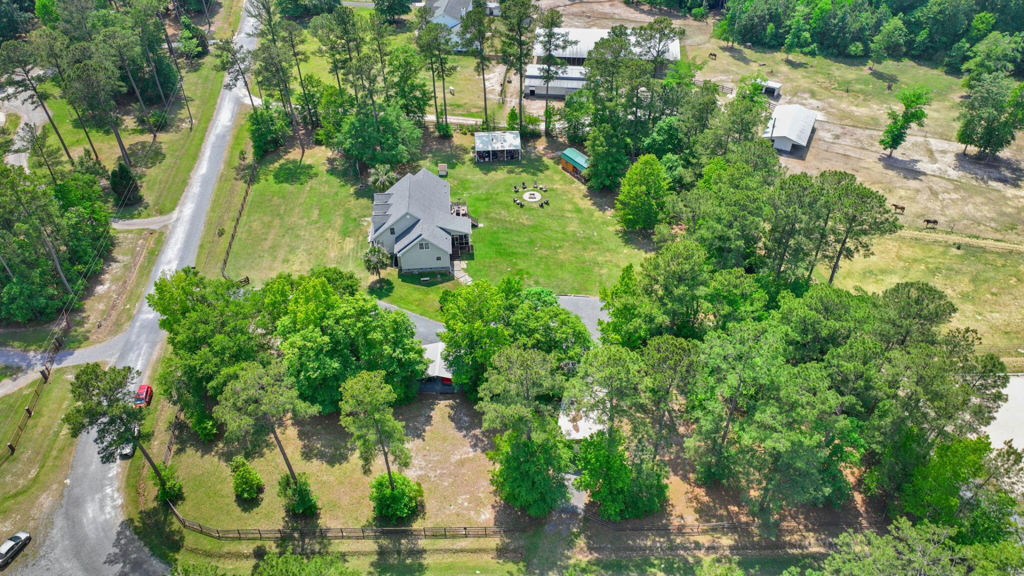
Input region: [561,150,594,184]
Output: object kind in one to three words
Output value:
building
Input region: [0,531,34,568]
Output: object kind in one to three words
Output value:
car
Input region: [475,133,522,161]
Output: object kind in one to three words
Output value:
shed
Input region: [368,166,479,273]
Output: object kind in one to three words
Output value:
house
